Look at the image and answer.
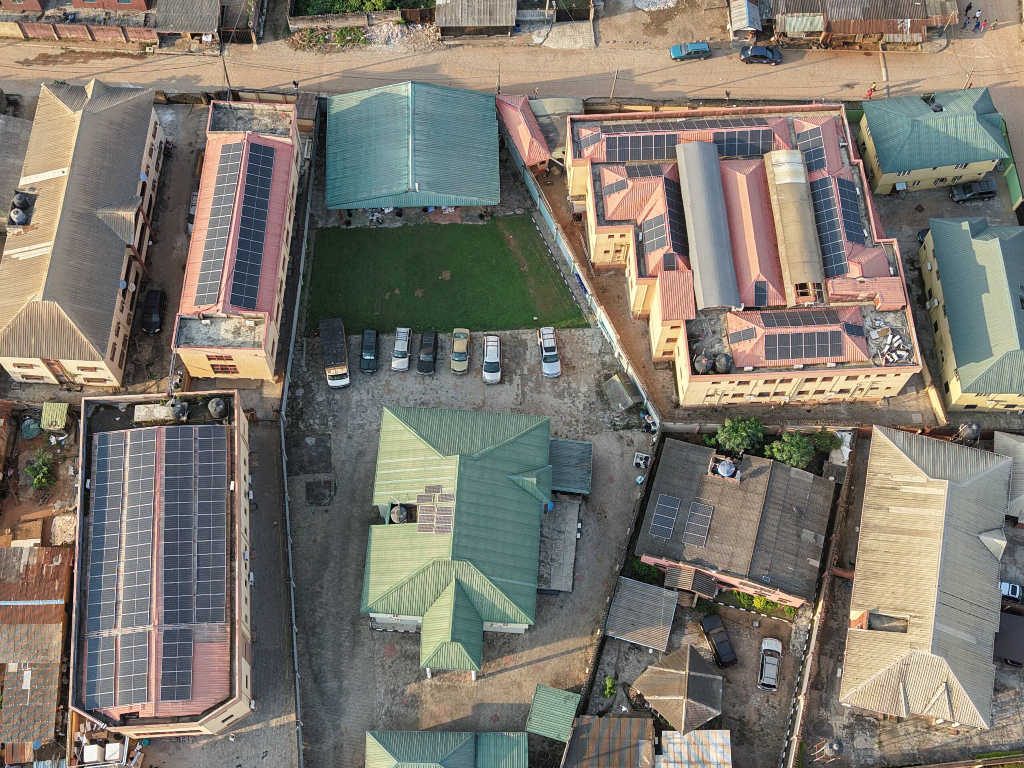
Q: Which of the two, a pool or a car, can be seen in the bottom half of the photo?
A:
car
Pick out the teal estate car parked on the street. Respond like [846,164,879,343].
[669,41,712,62]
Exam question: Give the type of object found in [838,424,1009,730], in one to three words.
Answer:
house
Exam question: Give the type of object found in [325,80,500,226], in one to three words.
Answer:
building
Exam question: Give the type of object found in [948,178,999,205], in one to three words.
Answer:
car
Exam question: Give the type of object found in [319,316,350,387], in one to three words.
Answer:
truck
